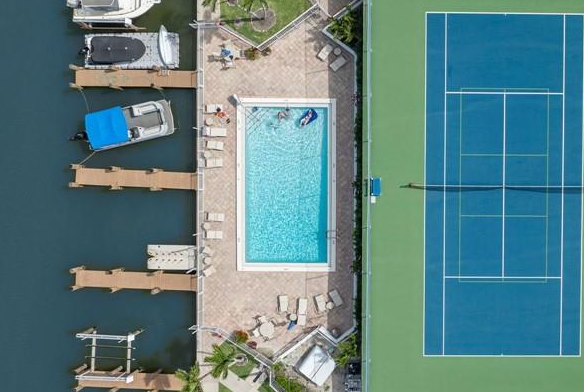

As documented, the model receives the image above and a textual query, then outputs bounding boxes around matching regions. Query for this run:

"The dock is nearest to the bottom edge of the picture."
[73,362,199,392]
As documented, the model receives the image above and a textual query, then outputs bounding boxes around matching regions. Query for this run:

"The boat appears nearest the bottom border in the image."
[67,102,176,151]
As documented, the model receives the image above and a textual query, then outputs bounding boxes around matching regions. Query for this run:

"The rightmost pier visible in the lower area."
[148,245,198,270]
